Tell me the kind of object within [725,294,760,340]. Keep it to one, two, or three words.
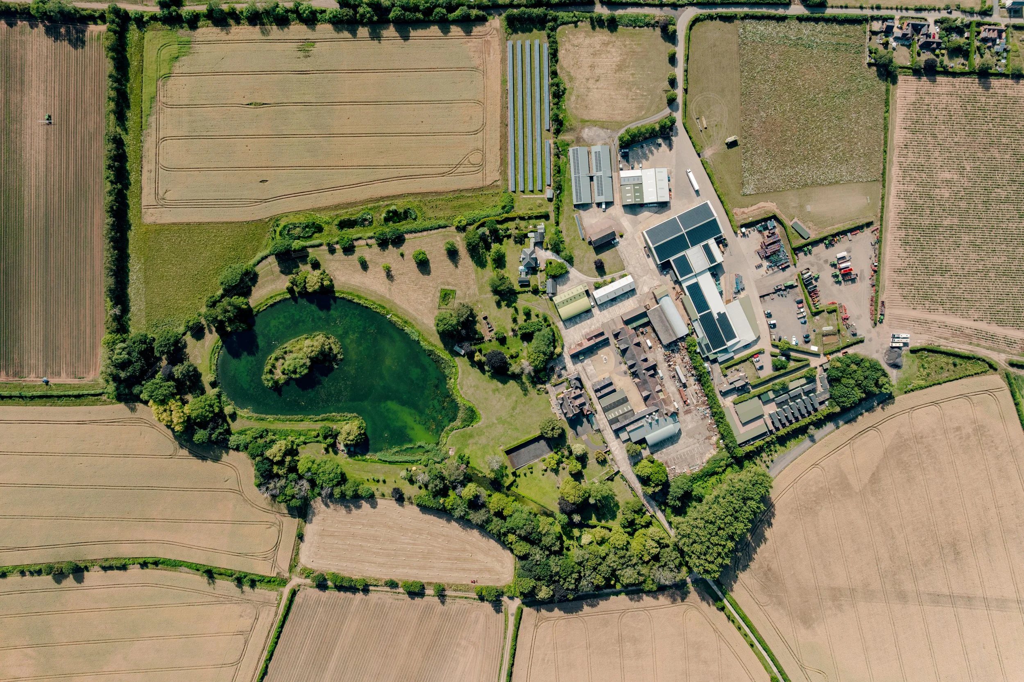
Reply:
shed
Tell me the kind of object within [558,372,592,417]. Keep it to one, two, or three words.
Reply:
house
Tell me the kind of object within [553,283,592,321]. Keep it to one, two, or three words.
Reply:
barn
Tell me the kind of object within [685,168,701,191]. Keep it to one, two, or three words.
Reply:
vehicle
